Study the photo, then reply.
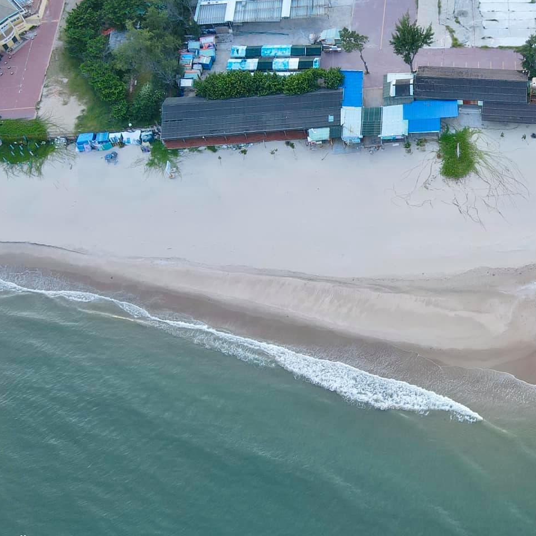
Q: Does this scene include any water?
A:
Yes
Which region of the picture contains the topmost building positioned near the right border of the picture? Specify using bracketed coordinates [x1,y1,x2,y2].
[414,69,528,109]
